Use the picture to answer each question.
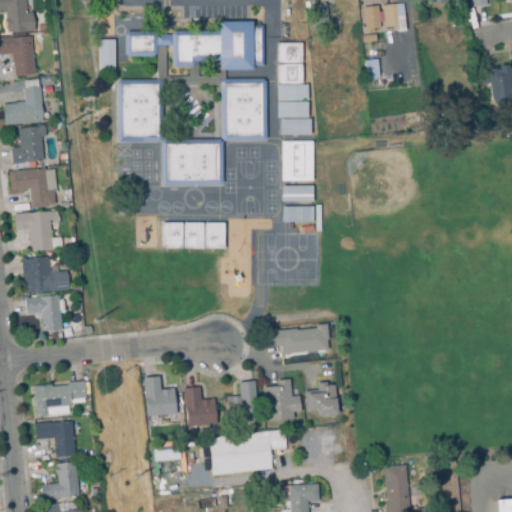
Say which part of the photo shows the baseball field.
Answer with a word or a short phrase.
right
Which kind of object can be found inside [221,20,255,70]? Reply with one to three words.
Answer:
building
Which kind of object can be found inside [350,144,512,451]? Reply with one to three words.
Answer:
baseball field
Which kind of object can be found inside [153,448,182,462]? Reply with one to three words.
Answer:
shed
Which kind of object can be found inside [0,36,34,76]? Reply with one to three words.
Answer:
house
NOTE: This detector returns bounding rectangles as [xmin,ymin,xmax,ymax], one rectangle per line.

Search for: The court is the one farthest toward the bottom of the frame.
[257,228,320,286]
